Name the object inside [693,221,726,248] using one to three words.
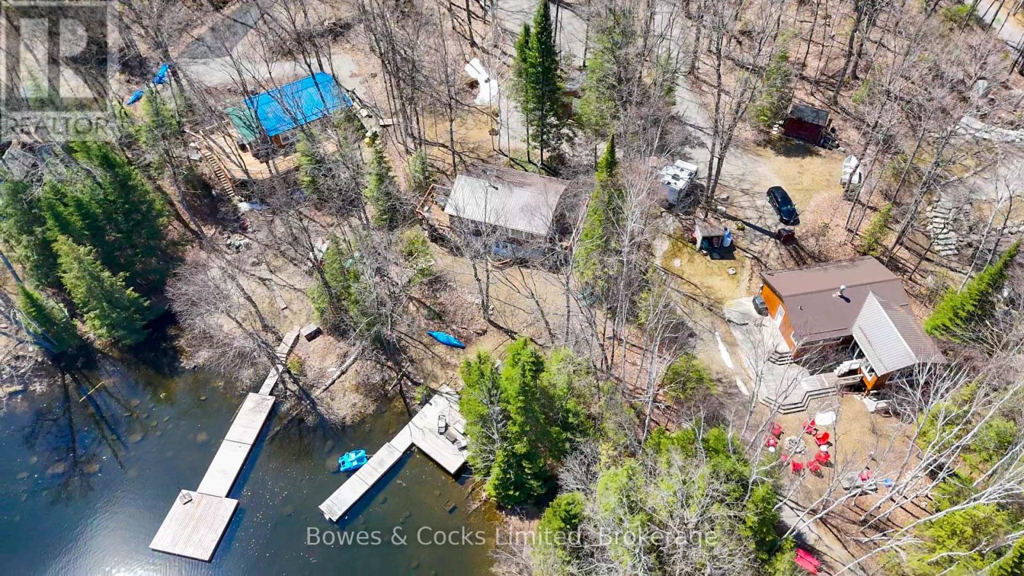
shed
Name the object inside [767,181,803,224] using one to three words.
car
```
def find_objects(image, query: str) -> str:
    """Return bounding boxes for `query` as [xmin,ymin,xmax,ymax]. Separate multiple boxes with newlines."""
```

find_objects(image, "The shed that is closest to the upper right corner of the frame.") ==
[788,100,839,151]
